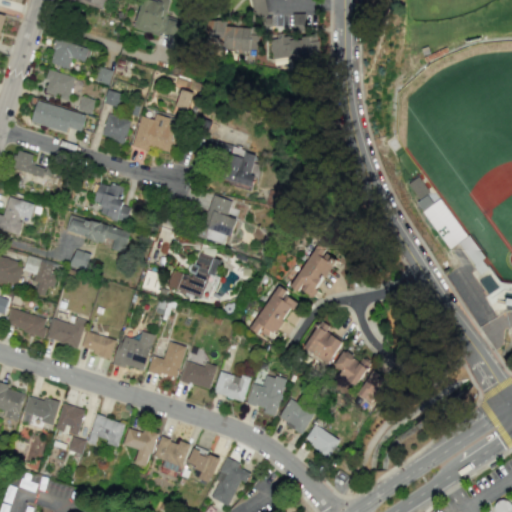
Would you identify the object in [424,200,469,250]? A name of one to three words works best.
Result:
building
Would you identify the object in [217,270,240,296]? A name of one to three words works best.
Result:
swimming pool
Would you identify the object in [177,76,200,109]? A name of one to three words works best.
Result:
house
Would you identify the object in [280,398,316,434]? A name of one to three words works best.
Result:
house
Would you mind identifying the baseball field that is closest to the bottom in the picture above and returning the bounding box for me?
[397,43,512,284]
